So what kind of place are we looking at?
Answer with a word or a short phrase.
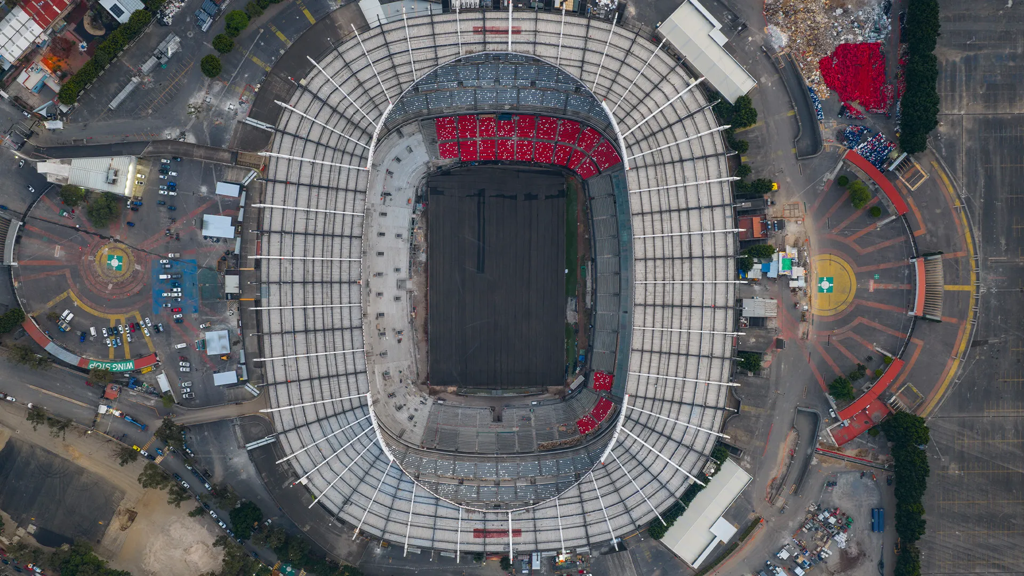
sports ground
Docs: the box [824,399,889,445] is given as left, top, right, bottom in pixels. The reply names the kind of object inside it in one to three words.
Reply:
building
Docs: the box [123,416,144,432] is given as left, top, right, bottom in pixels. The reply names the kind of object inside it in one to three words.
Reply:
vehicle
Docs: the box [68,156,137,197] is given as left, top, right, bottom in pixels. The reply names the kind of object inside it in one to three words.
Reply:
building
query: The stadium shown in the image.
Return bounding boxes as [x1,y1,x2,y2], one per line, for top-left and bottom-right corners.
[247,2,749,565]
